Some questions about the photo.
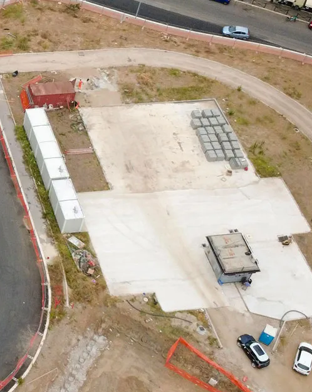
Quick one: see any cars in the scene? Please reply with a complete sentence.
Yes, a car appears in the view.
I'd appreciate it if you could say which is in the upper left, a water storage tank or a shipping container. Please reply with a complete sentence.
Visible in the upper left is a shipping container.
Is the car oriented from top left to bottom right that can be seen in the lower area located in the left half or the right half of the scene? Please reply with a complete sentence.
You can find the car oriented from top left to bottom right that can be seen in the lower area on the right side of the picture.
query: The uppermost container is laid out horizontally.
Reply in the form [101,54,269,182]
[25,81,76,107]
